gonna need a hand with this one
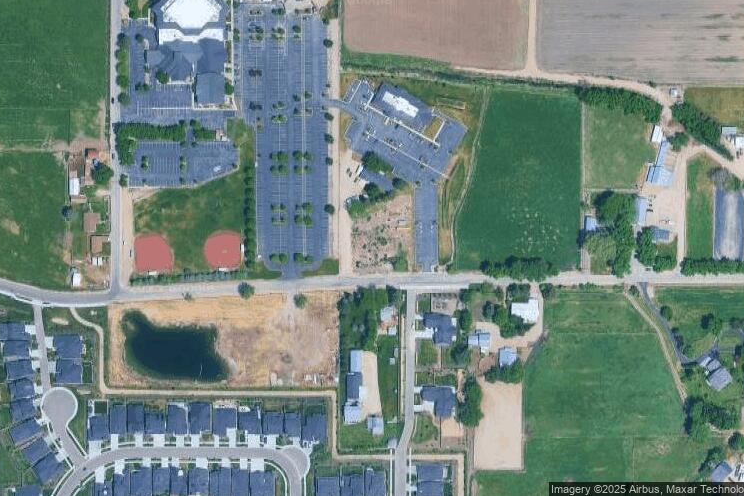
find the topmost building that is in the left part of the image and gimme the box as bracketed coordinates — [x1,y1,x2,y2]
[145,0,228,103]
